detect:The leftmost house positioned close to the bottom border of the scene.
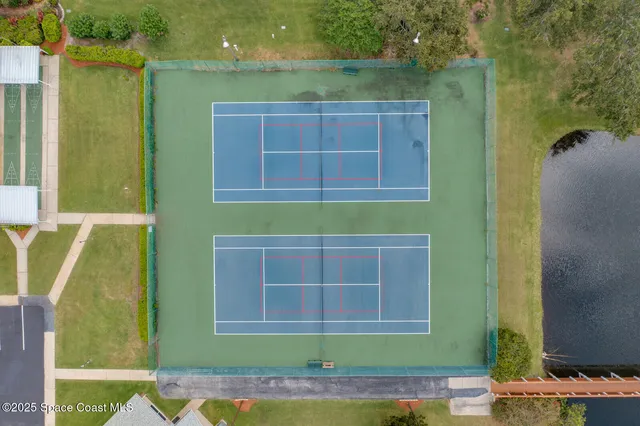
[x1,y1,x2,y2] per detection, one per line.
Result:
[103,392,174,426]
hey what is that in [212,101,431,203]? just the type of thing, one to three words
tennis court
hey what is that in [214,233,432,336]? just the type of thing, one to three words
tennis court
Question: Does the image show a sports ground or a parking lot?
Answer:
sports ground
